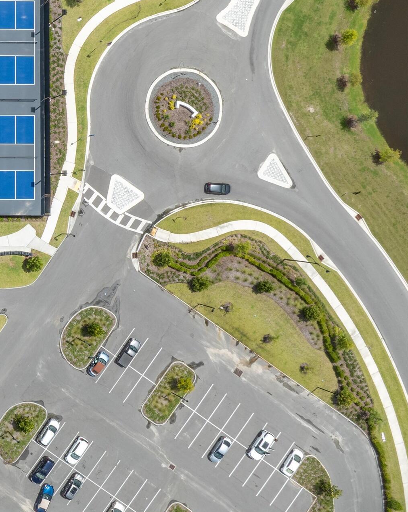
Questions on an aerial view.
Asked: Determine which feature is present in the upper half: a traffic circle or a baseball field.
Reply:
traffic circle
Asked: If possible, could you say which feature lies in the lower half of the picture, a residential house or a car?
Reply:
car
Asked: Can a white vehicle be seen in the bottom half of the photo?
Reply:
Yes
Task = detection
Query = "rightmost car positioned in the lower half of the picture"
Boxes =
[281,449,306,479]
